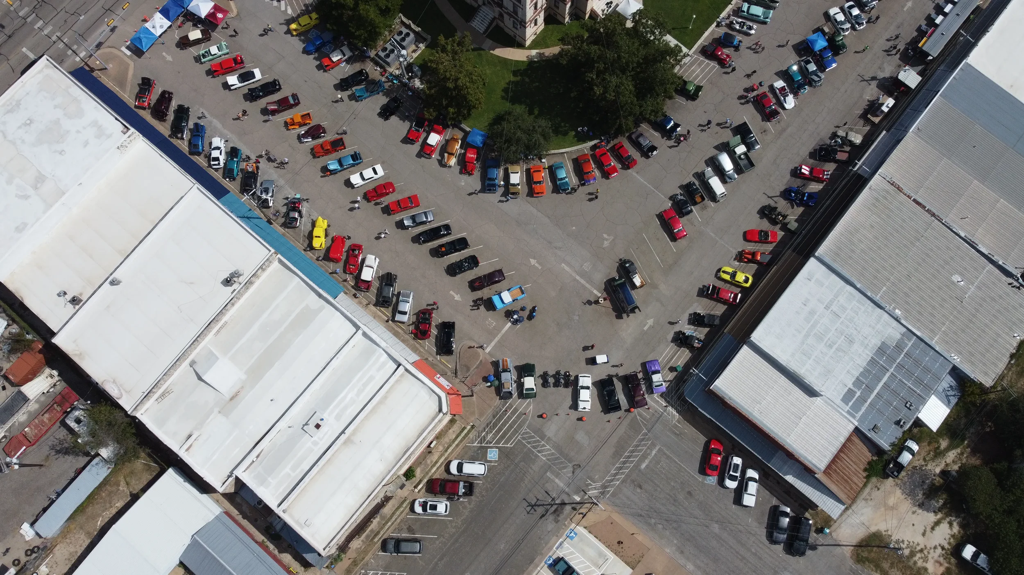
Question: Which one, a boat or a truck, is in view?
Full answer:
I can see a truck in this picture.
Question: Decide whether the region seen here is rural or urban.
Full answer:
From above, the setting appears urban.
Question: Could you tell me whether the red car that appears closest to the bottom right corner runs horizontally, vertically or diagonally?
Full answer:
Seen from above, the red car that appears closest to the bottom right corner lies vertically.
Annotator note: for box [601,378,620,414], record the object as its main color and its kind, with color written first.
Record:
black car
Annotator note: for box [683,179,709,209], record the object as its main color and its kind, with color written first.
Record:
black truck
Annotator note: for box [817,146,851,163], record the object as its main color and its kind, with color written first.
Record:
black vehicle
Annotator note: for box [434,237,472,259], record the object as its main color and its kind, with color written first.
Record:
black car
